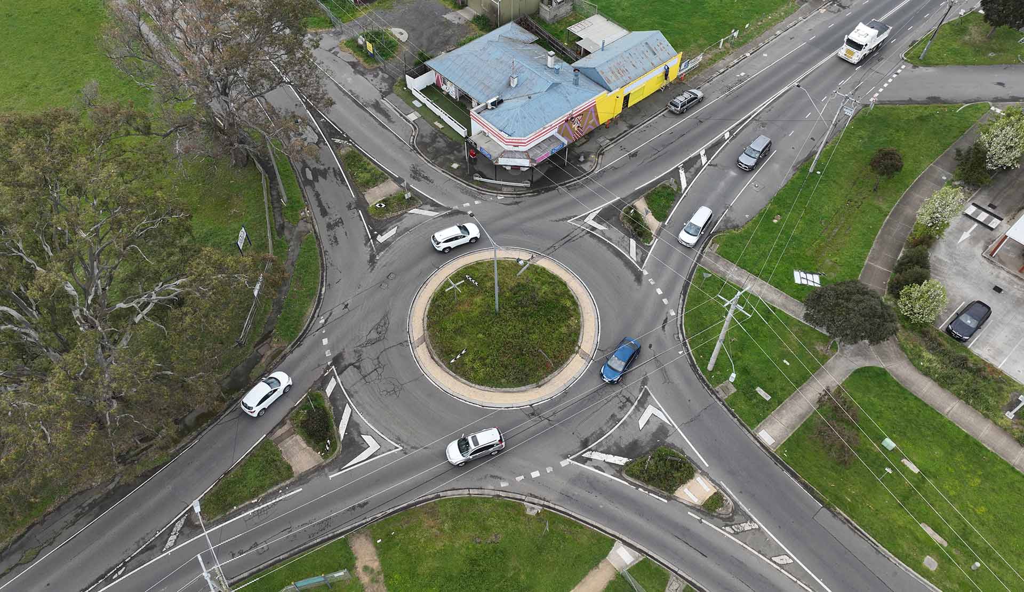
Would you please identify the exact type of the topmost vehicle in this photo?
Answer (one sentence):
In the photo, the topmost vehicle shows up as a truck.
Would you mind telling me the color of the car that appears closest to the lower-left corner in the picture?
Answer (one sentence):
The car that appears closest to the lower-left corner looks white in the image.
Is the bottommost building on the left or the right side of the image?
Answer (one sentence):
It is on the right.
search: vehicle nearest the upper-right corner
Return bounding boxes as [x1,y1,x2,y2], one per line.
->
[838,17,899,66]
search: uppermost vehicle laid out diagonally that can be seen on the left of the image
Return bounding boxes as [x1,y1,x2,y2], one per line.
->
[238,372,296,420]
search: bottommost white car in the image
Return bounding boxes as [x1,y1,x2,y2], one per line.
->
[444,424,507,467]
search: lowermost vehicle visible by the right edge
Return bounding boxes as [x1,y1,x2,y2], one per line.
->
[948,299,994,345]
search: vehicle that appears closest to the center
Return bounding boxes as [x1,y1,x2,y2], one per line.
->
[430,222,481,252]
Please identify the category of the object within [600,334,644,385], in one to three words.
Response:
car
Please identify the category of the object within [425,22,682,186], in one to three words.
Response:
building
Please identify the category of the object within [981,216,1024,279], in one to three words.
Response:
building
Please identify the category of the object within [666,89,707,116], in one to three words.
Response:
car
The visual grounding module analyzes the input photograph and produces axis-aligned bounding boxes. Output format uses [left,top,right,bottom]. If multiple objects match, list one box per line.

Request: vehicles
[600,334,644,385]
[430,222,481,252]
[238,372,296,420]
[838,17,899,66]
[737,134,773,172]
[444,424,507,467]
[679,205,715,248]
[666,89,707,116]
[948,299,994,345]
